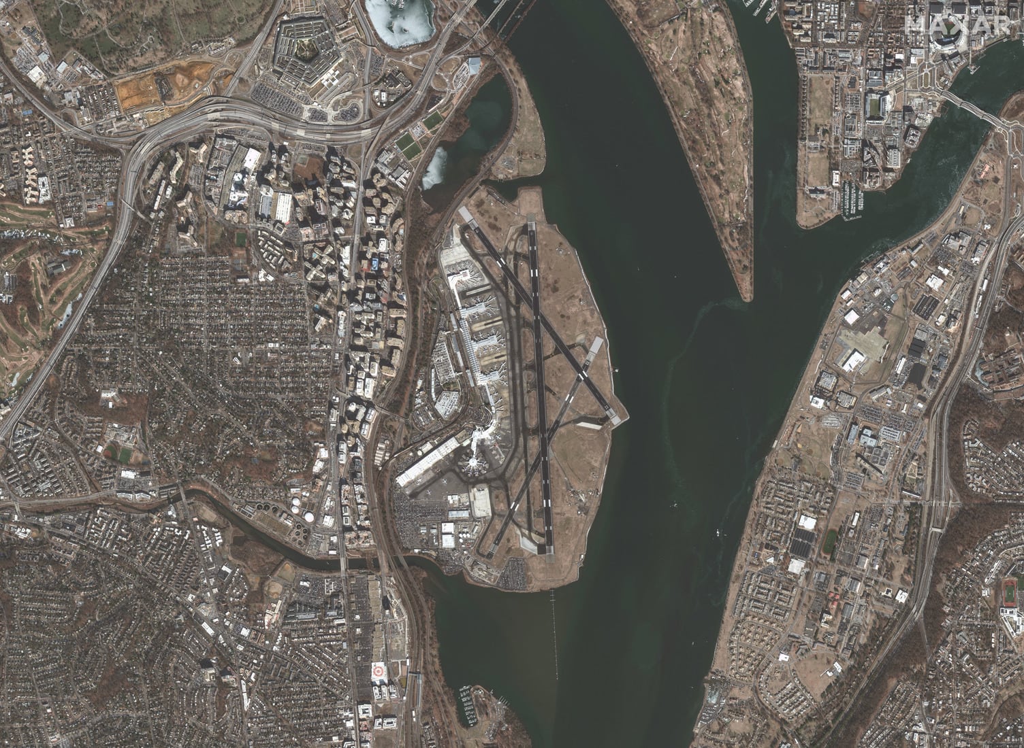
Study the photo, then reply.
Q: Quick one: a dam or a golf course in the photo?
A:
golf course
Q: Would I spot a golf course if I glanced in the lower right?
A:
No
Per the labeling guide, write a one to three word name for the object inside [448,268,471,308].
building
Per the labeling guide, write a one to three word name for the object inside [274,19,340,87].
building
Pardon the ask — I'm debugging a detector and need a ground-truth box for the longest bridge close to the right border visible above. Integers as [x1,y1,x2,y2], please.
[930,83,1002,127]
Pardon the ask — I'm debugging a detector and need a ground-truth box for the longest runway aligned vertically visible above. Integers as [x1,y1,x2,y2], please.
[528,213,554,563]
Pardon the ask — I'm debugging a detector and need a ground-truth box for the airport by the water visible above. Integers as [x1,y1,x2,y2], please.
[402,186,629,590]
